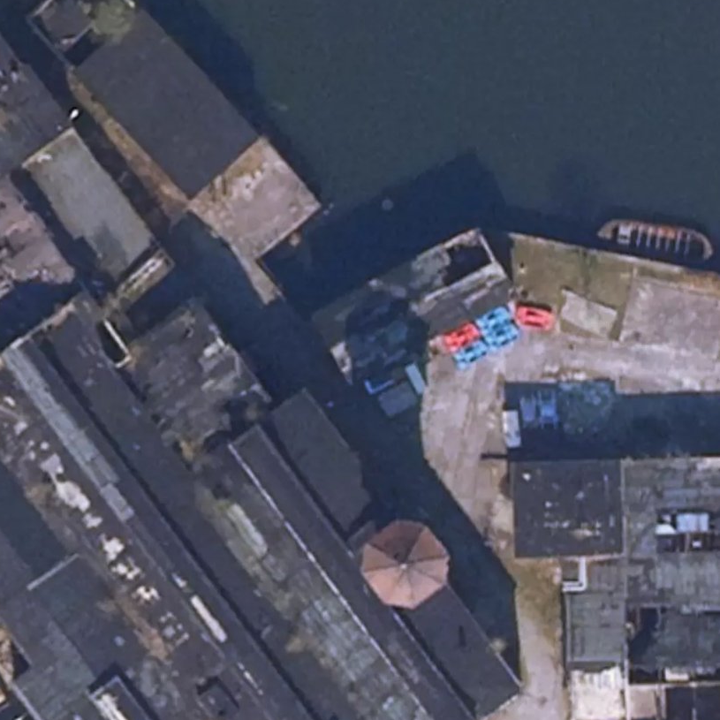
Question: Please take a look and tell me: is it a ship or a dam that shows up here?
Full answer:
Of the two, only a ship appears.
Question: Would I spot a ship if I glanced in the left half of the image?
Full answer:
No, in the left half of the image there is no ship.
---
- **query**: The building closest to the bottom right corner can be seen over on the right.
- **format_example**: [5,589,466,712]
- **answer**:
[631,609,720,681]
